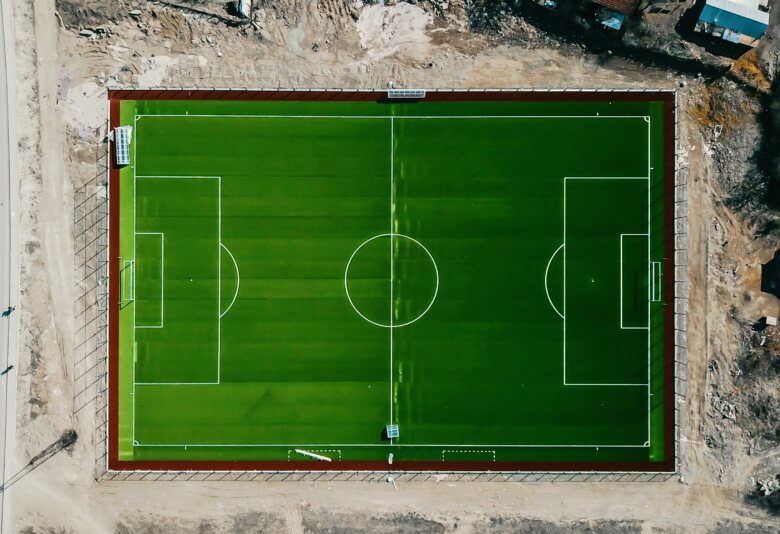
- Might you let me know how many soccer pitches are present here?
1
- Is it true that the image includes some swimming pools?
No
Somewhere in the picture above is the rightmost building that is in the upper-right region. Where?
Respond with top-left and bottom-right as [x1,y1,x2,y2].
[689,0,773,52]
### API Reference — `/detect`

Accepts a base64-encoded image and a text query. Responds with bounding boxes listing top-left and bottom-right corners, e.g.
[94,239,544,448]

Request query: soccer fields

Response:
[106,88,677,474]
